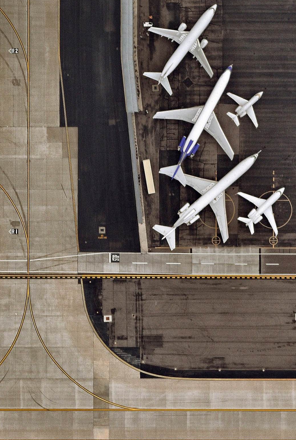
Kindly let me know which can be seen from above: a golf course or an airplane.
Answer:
airplane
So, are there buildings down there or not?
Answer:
No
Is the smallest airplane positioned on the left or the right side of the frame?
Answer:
right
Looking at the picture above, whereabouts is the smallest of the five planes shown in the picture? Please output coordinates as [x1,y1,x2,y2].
[226,91,263,128]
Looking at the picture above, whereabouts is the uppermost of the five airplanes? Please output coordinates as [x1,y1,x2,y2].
[143,4,218,94]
